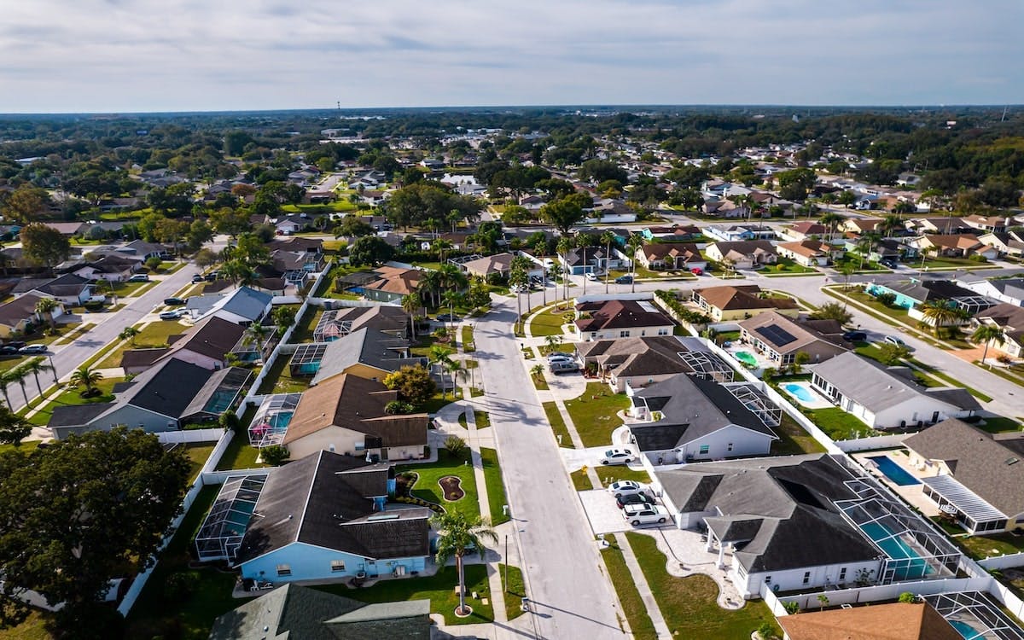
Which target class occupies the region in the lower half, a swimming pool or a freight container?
swimming pool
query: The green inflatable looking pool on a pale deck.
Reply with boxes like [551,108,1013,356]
[732,349,761,367]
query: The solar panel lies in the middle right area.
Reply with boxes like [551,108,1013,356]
[759,321,798,342]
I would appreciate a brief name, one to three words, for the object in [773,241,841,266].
house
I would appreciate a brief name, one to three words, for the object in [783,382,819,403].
swimming pool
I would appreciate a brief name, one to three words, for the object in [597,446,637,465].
car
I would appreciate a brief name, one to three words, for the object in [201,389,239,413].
swimming pool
